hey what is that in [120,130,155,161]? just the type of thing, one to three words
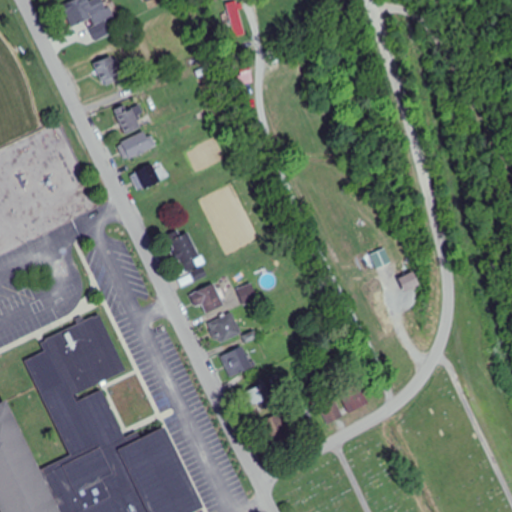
house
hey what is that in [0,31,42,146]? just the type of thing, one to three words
sports field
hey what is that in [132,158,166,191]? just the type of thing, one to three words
house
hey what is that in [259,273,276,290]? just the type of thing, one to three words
swimming pool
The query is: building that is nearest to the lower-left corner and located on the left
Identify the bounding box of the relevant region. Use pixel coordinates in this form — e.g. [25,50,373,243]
[22,315,203,512]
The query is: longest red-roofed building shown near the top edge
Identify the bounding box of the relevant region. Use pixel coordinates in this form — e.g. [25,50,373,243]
[226,1,244,36]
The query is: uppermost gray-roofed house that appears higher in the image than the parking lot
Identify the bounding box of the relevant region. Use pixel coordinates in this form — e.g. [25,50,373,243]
[64,0,116,44]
